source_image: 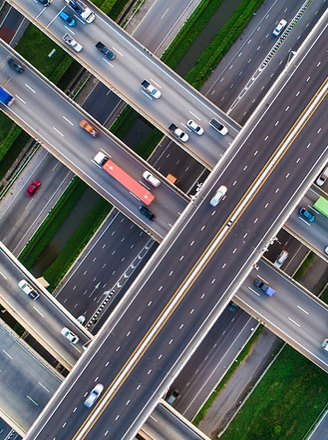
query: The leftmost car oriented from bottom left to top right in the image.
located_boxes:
[25,180,41,199]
